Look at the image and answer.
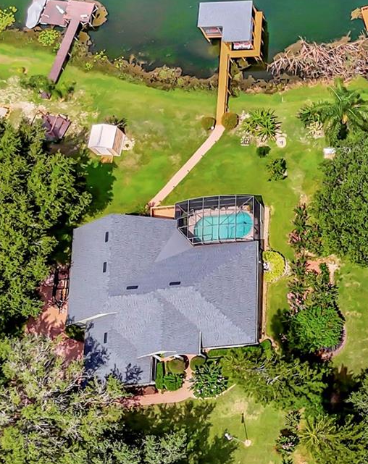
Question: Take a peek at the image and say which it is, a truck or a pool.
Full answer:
It is a pool that can be seen here.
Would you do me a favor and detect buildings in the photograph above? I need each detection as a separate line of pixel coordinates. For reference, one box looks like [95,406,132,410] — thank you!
[67,214,263,385]
[86,121,128,169]
[198,0,266,128]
